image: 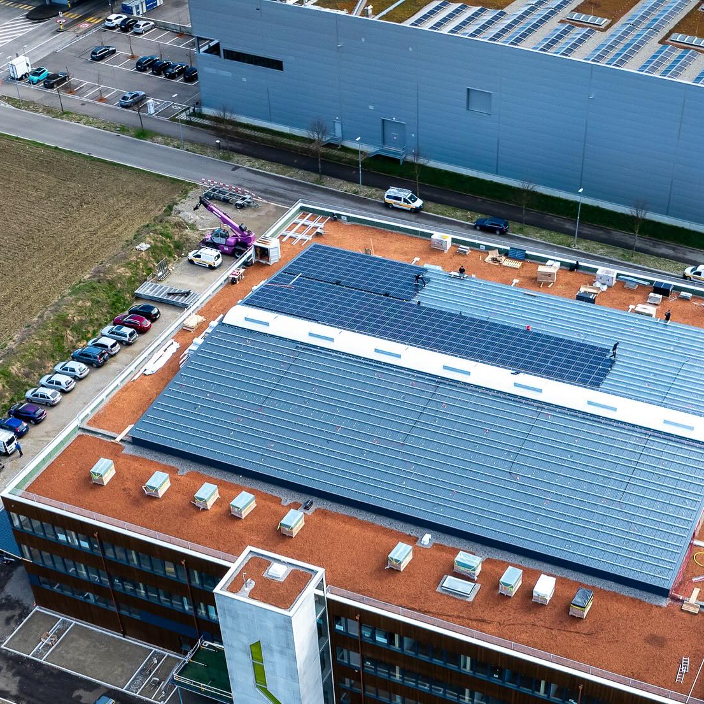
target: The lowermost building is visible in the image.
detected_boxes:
[0,198,704,704]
